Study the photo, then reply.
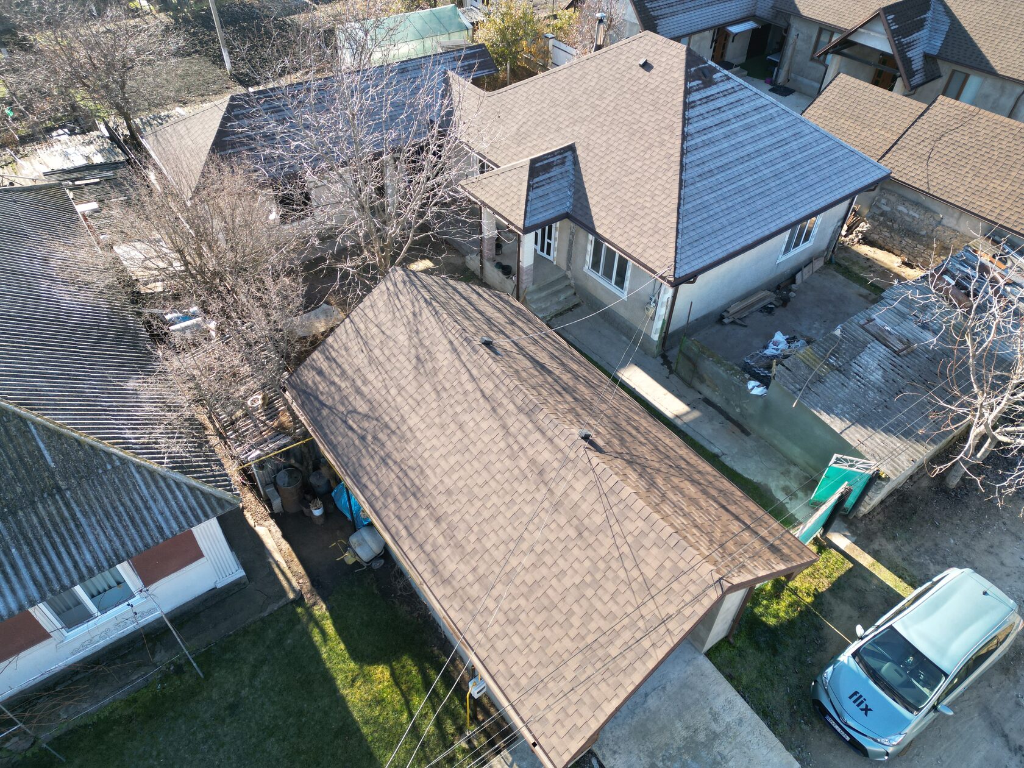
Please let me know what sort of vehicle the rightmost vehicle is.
car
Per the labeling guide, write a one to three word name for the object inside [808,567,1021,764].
car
